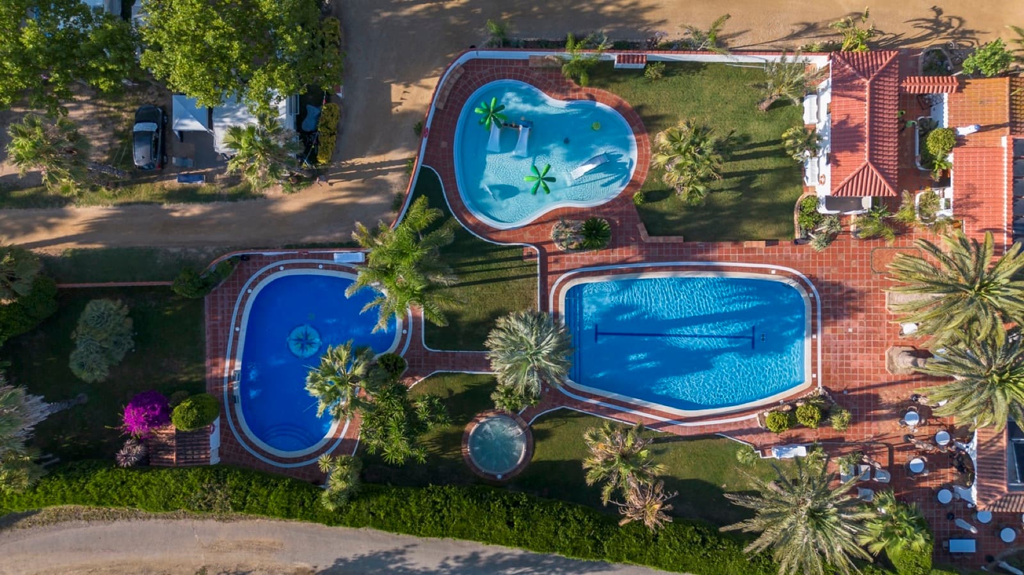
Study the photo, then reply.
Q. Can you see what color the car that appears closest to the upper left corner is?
black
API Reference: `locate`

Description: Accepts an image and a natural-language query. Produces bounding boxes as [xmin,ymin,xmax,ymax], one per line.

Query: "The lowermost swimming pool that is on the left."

[224,259,412,466]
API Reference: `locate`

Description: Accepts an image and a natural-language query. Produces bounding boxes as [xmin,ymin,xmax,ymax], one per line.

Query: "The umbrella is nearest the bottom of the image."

[986,554,1021,575]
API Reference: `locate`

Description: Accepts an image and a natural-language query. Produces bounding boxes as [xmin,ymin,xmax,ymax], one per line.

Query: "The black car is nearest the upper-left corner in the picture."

[130,107,168,171]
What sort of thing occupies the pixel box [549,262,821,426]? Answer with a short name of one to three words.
swimming pool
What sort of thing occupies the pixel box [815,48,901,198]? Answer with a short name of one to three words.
building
